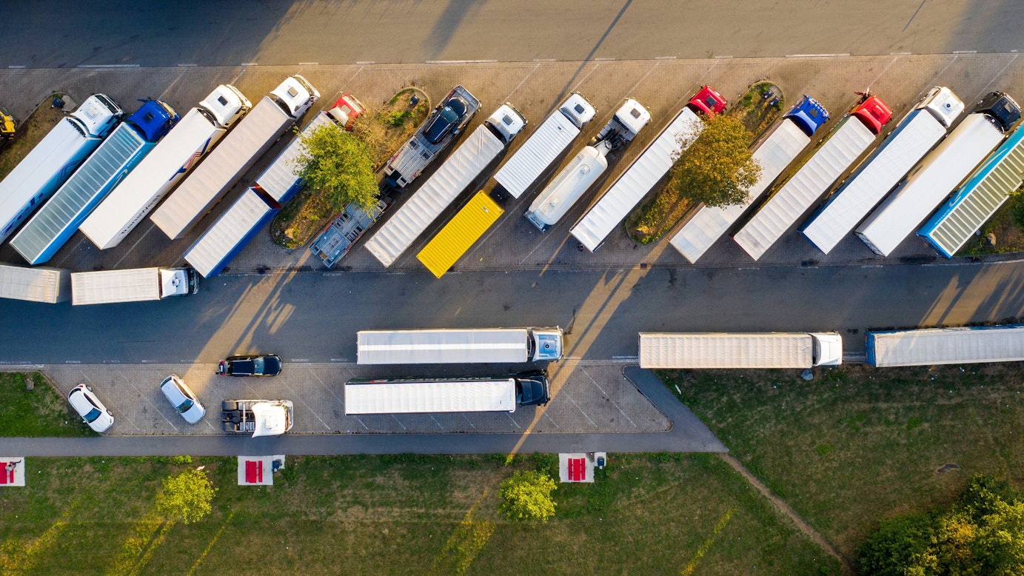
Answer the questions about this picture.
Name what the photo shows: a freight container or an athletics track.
freight container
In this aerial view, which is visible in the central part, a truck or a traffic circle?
truck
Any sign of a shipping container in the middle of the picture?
Yes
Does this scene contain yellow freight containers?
Yes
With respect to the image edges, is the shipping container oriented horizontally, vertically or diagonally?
diagonally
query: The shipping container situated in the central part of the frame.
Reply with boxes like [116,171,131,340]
[416,188,506,278]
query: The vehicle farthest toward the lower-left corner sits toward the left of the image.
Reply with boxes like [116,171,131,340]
[69,382,114,434]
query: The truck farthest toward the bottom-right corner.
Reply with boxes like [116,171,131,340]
[862,323,1024,367]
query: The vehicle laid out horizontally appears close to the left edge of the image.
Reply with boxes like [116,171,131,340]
[0,263,204,305]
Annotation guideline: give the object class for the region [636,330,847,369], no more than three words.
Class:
truck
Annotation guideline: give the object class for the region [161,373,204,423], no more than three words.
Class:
car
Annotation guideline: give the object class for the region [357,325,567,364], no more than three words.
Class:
truck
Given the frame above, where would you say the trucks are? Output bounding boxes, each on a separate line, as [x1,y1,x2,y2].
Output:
[914,118,1024,257]
[183,89,371,279]
[665,93,831,263]
[862,323,1024,367]
[357,325,567,364]
[0,93,127,244]
[0,263,204,305]
[9,90,184,264]
[727,86,896,260]
[345,371,551,415]
[79,80,253,250]
[494,88,600,199]
[636,330,847,369]
[523,97,652,234]
[794,82,966,254]
[222,402,294,441]
[851,82,1024,255]
[568,81,730,253]
[150,70,321,240]
[364,99,531,267]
